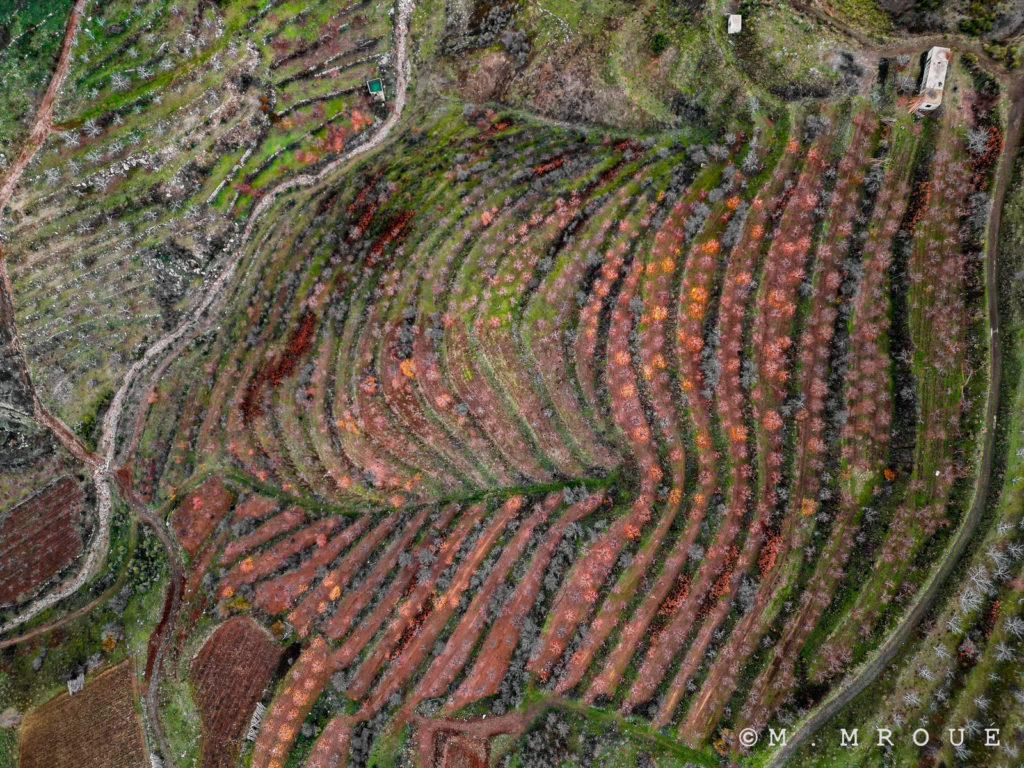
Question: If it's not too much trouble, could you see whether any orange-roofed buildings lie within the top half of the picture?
No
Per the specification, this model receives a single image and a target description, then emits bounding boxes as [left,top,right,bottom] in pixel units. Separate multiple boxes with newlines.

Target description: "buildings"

[915,46,951,110]
[727,14,742,33]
